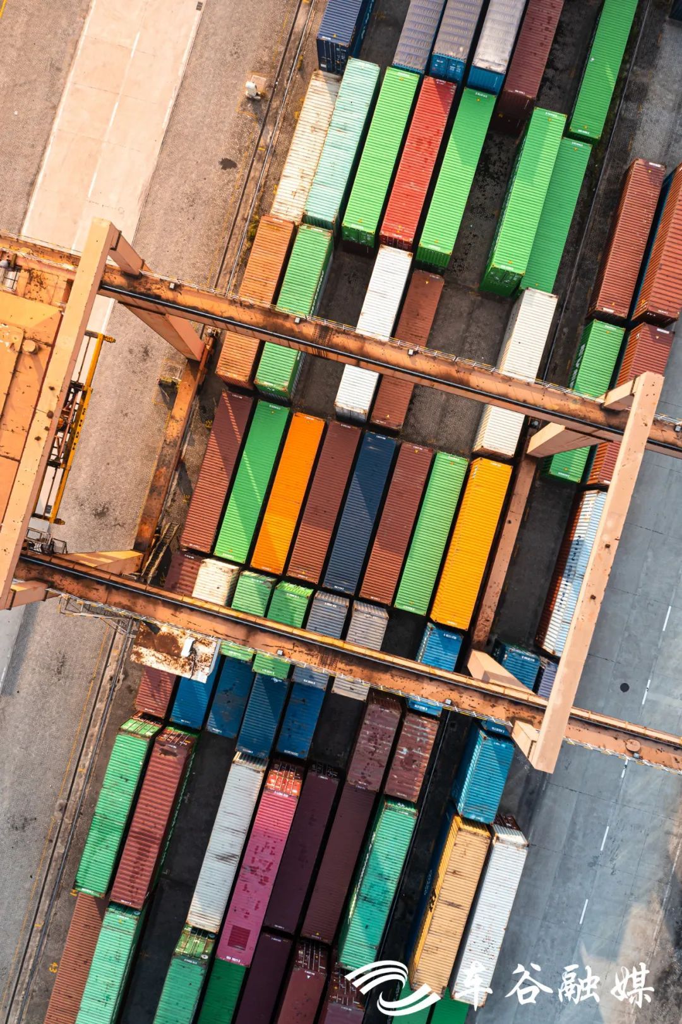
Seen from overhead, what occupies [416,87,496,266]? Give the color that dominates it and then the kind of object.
green shipping container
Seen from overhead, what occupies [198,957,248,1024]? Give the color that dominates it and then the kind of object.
green shipping container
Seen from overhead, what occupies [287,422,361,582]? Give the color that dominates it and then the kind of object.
red shipping container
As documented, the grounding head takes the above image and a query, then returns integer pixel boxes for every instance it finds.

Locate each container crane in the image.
[0,218,682,777]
